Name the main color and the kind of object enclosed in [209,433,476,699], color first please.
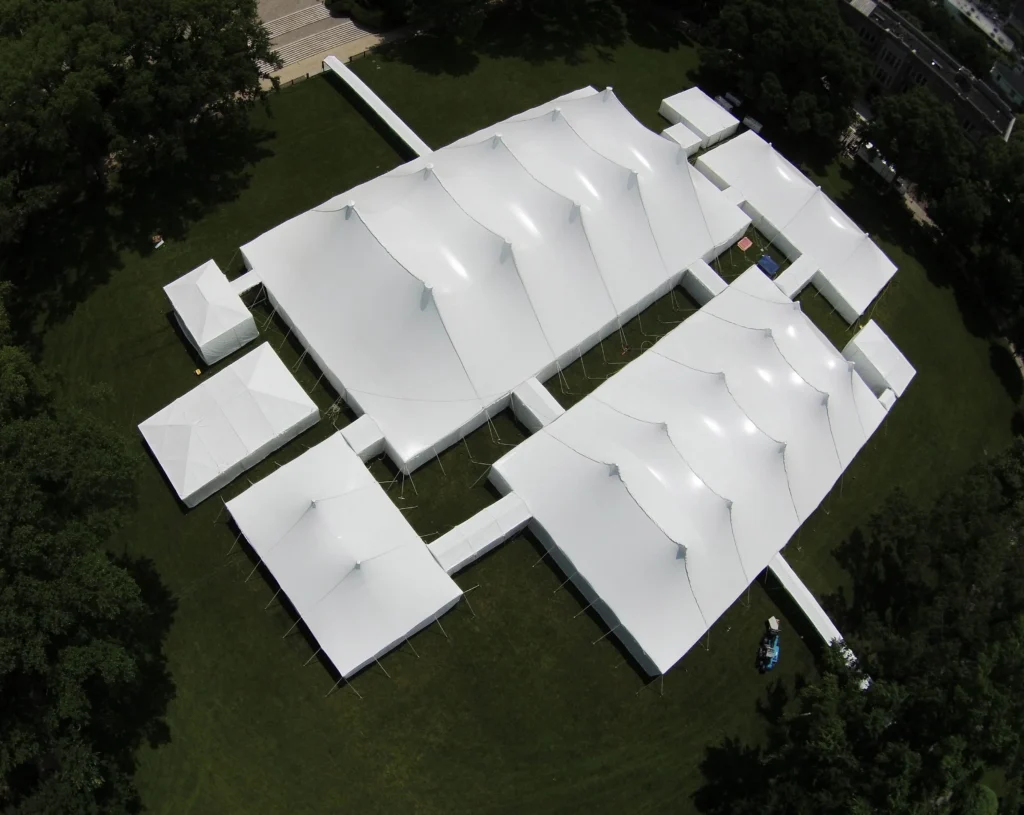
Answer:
white tent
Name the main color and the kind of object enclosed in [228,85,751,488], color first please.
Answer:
white tent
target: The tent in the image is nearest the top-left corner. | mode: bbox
[165,260,257,361]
